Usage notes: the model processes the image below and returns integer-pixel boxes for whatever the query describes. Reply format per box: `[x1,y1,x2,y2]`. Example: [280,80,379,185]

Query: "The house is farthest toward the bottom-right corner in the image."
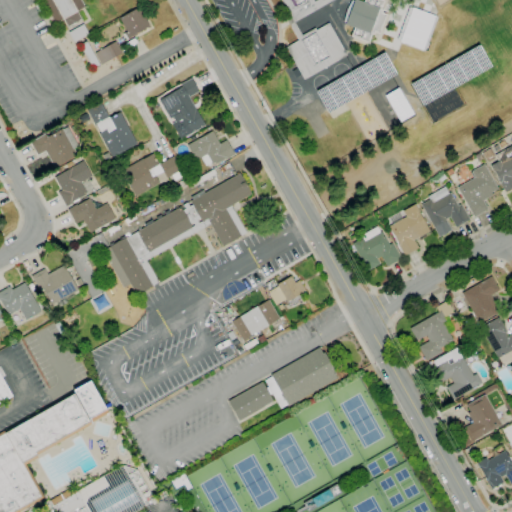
[480,450,512,490]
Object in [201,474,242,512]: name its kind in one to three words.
tennis court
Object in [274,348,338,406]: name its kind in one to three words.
building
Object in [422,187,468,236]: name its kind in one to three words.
house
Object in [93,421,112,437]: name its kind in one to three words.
swimming pool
